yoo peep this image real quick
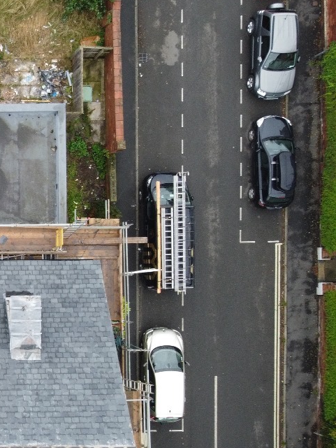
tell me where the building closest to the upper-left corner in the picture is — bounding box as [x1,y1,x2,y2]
[0,104,65,221]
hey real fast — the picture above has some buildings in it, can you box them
[0,104,65,221]
[0,259,135,448]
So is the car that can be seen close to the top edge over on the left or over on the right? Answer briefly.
right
